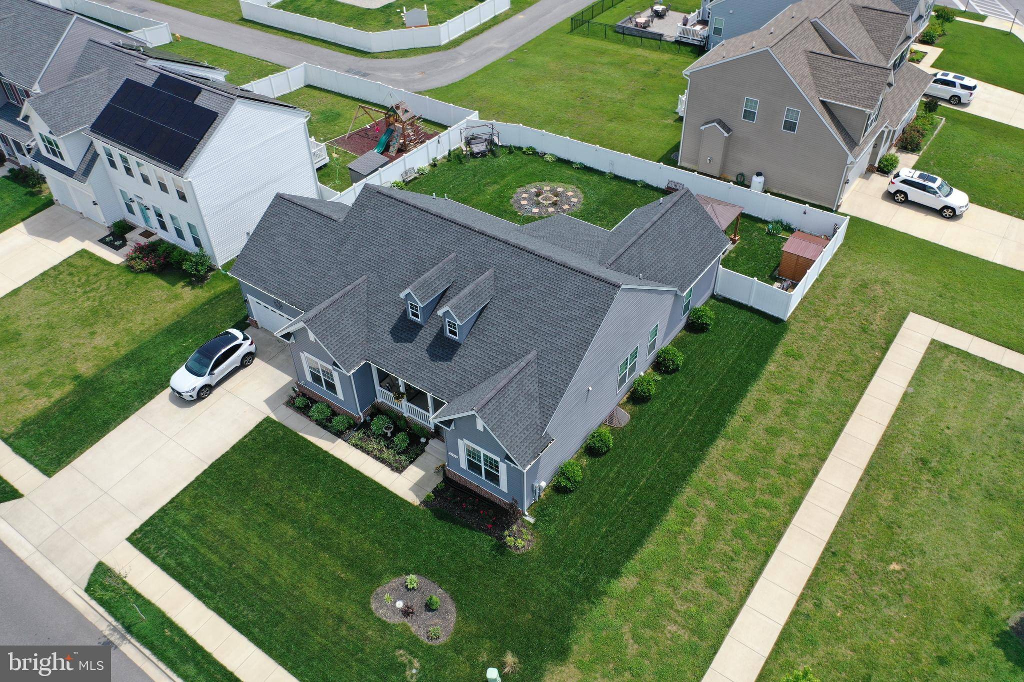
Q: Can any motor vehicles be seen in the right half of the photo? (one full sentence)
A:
Yes, there is a motor vehicle in the right half of the photo.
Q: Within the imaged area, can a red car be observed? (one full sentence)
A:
No, the scene contains no red car.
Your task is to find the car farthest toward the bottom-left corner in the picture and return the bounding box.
[170,331,265,406]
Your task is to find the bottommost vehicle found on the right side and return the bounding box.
[882,170,974,224]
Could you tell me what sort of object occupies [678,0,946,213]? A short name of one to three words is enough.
house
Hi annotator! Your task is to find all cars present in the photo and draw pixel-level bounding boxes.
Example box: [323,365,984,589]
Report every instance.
[882,170,974,224]
[170,331,265,406]
[925,68,983,103]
